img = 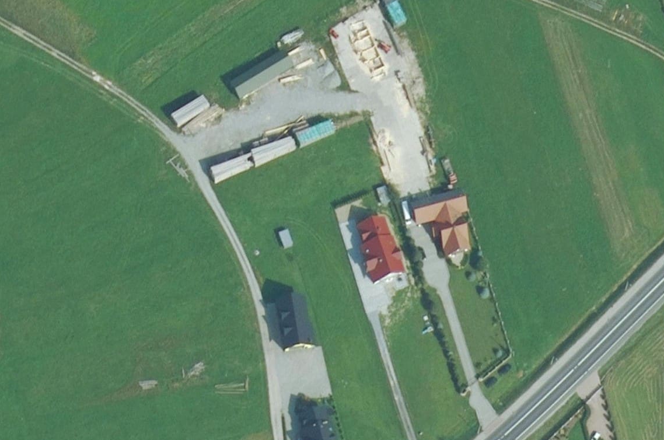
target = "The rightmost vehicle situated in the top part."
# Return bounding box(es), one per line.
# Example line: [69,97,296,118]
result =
[442,159,457,184]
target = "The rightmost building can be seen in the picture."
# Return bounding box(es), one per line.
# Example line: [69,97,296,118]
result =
[411,194,473,266]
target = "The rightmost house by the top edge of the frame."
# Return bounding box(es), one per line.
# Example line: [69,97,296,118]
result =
[349,20,386,80]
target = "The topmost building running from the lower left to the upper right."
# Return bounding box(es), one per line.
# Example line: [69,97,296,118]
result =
[229,49,294,100]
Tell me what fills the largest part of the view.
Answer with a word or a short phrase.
grass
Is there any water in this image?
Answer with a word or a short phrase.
No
